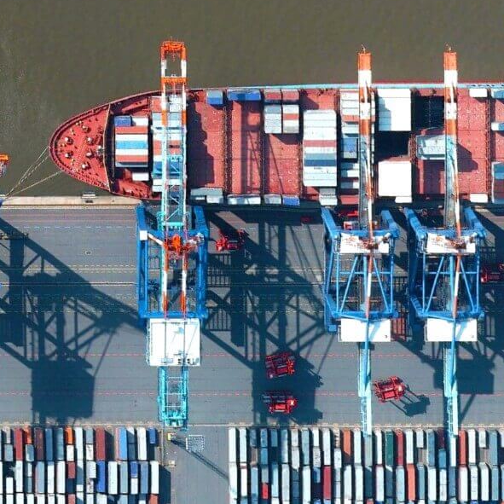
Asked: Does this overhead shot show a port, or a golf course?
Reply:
port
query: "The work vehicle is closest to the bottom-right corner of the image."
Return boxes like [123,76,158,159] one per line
[372,376,407,398]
